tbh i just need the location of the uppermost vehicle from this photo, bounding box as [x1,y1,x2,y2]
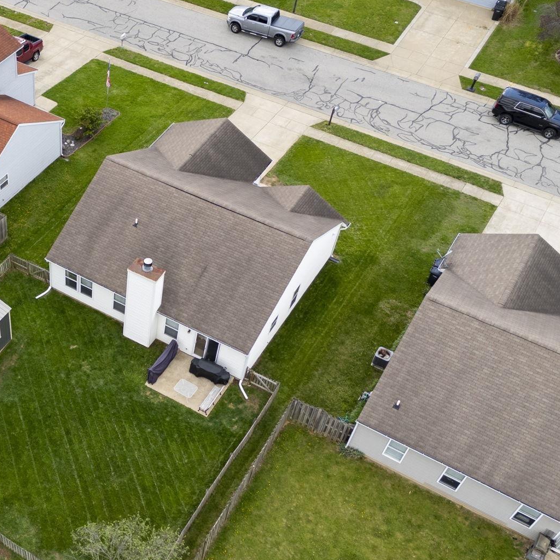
[226,3,307,46]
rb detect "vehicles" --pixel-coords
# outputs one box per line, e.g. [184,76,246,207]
[489,87,560,141]
[226,3,307,46]
[12,30,43,65]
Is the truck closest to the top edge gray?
Yes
